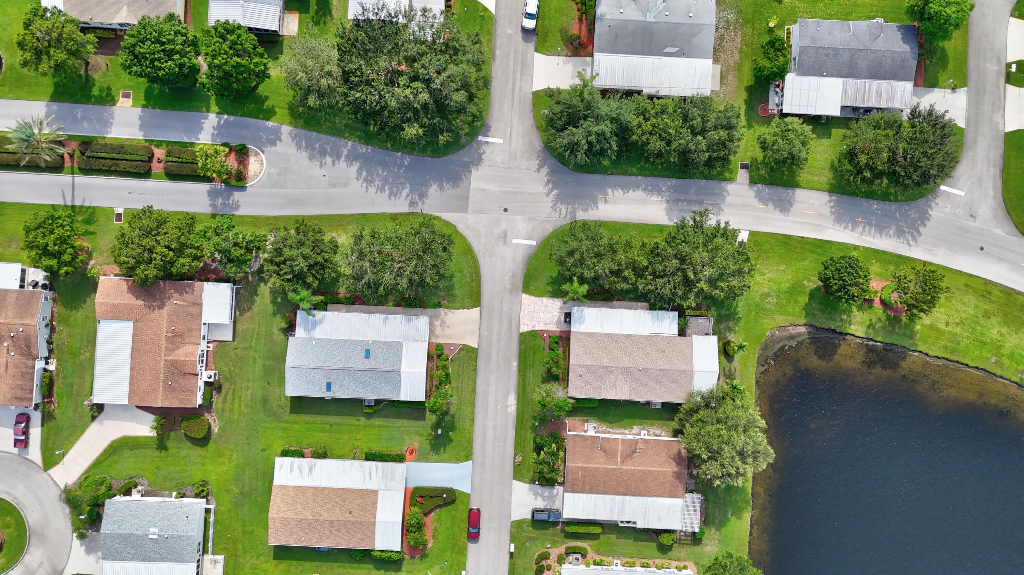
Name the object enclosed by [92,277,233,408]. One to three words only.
house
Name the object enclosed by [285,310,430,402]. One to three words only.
house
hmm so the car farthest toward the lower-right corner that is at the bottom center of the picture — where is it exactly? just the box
[530,508,562,524]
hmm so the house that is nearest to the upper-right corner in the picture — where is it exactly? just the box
[782,18,919,116]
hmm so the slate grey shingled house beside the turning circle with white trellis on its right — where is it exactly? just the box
[96,490,206,575]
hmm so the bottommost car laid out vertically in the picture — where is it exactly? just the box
[467,507,481,540]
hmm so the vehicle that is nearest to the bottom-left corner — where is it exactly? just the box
[12,407,32,444]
